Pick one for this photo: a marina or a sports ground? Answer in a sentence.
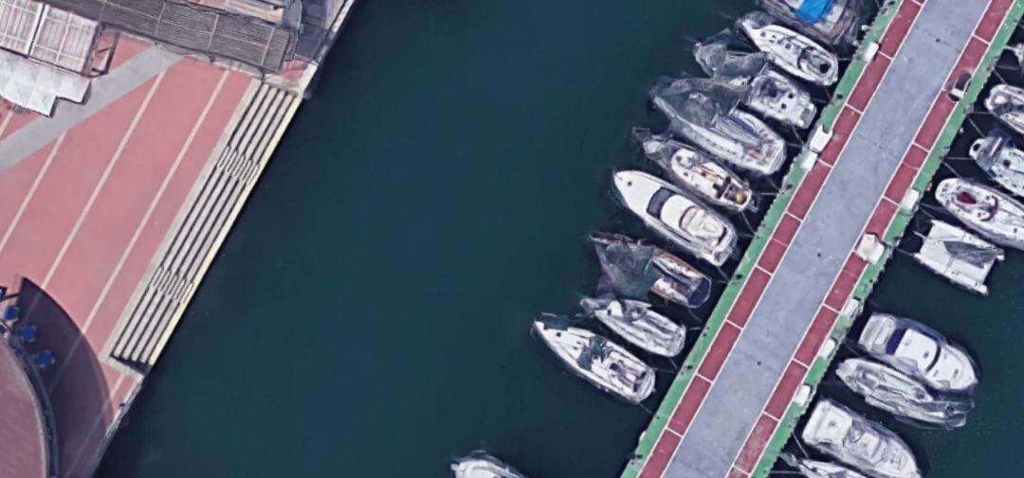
It's a marina.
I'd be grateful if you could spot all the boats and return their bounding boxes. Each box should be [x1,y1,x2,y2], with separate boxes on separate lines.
[919,165,1024,254]
[612,172,763,279]
[697,30,836,140]
[964,116,1024,199]
[896,207,1005,292]
[589,234,729,324]
[996,41,1024,90]
[651,88,804,197]
[847,284,981,385]
[532,314,688,415]
[794,401,923,478]
[741,12,849,95]
[781,435,847,478]
[759,0,881,44]
[969,64,1024,141]
[450,457,521,478]
[633,129,780,232]
[818,337,974,420]
[579,296,706,378]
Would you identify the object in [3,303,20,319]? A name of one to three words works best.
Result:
umbrella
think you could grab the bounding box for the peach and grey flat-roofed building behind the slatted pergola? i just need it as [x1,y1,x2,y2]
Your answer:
[198,0,309,60]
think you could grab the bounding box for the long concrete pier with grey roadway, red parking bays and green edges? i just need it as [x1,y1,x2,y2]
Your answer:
[620,0,1024,478]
